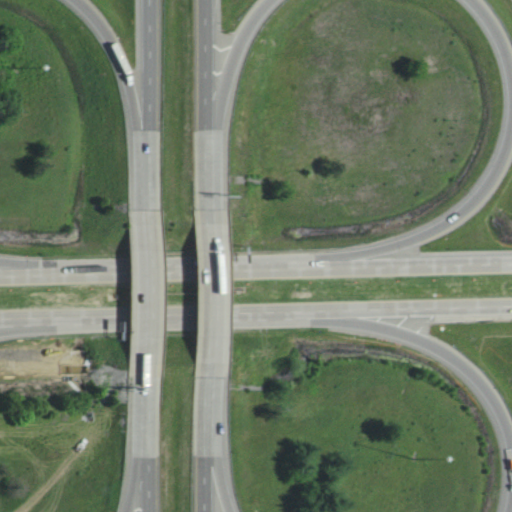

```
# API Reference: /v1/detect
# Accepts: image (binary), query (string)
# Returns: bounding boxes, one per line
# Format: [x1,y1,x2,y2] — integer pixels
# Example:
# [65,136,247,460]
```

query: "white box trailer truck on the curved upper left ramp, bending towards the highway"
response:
[107,42,133,82]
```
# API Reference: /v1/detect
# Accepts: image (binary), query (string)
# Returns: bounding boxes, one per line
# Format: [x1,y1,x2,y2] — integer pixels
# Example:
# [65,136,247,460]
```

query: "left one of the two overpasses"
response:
[128,210,167,378]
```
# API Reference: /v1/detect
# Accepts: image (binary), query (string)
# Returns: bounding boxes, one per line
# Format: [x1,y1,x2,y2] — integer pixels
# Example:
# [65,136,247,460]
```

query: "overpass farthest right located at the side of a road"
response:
[194,210,234,378]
